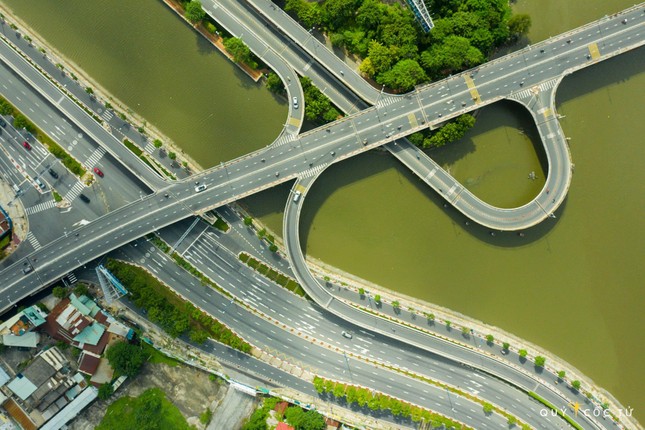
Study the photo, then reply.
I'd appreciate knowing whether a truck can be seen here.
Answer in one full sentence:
No, there isn't any truck down there.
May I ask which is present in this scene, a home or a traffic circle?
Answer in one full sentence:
Of the two, only a home appears.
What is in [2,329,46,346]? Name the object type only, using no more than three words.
house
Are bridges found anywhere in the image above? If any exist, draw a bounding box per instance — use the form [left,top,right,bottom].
[0,3,645,312]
